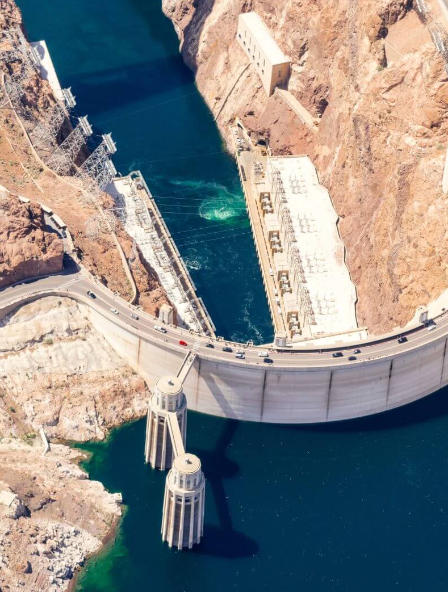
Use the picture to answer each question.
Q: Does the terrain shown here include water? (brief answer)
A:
Yes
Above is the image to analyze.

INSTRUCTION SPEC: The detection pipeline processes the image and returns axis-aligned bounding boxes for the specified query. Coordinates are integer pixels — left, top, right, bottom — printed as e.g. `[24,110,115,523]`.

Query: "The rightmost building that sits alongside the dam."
[234,126,359,348]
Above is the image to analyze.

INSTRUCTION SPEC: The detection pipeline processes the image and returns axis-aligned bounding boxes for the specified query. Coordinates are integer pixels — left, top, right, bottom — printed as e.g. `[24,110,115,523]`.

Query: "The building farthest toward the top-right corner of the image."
[236,12,291,94]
